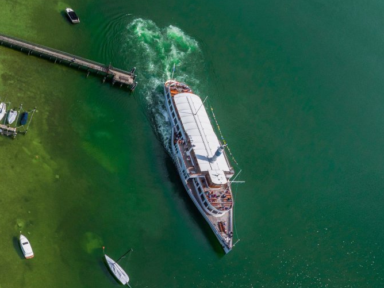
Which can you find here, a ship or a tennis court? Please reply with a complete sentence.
There is a ship in the scene.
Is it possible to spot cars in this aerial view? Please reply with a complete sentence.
No, I can't see a single car in this photo.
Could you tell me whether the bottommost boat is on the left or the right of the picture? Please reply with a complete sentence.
The bottommost boat is on the left side of the image.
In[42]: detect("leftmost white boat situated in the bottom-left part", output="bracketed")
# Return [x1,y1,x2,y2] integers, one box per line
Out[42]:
[20,234,34,260]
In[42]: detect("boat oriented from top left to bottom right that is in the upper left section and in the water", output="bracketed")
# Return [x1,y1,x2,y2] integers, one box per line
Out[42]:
[66,8,82,25]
